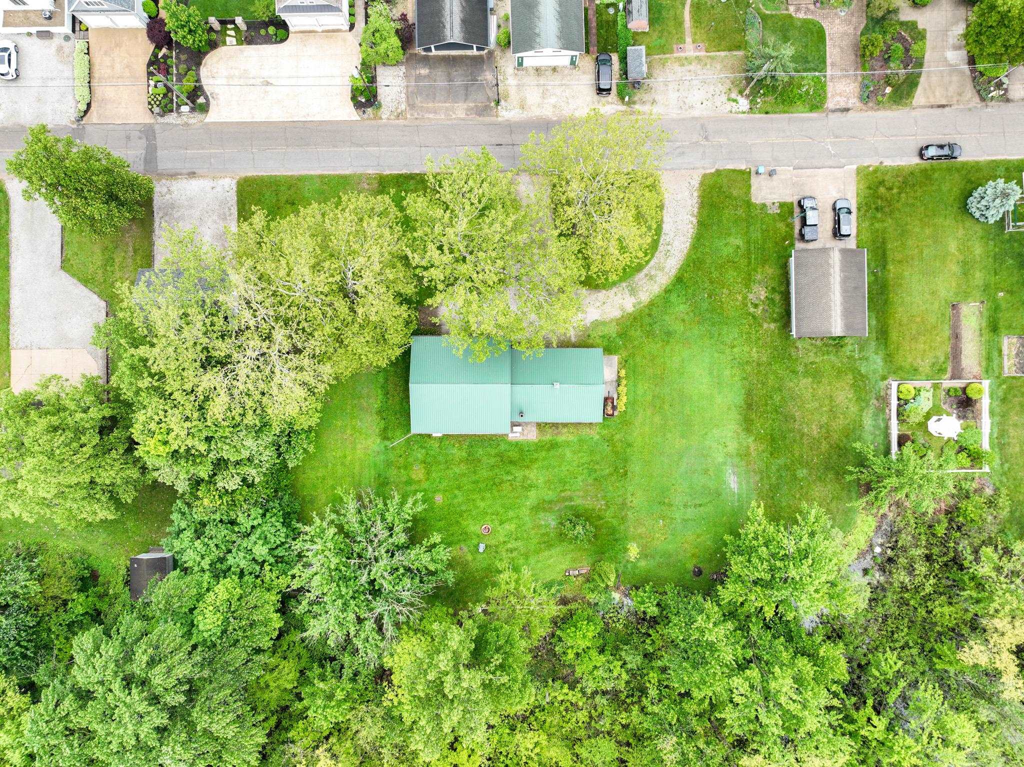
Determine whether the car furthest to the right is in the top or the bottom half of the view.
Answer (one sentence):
Seen from above, the car furthest to the right lies in the top half of the view.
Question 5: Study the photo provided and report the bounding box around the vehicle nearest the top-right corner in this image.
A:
[922,139,965,161]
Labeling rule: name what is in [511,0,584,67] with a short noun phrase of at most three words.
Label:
building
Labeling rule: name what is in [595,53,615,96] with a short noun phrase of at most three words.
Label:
car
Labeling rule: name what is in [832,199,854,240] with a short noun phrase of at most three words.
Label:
car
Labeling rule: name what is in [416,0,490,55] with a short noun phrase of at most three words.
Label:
building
